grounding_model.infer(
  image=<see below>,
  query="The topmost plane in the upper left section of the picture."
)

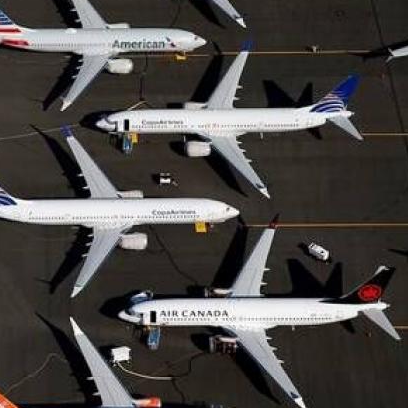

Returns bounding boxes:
[0,0,208,108]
